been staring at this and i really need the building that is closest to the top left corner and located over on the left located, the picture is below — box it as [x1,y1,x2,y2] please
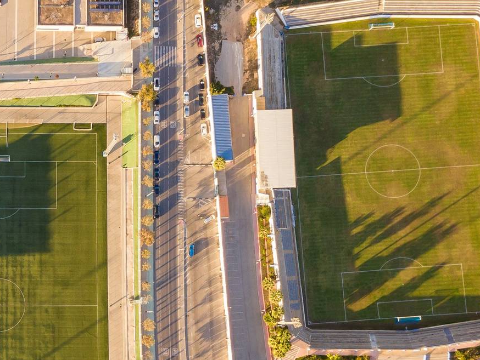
[35,0,76,32]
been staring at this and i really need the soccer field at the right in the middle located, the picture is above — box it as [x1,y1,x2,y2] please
[284,19,480,329]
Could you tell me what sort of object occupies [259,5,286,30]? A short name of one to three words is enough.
building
